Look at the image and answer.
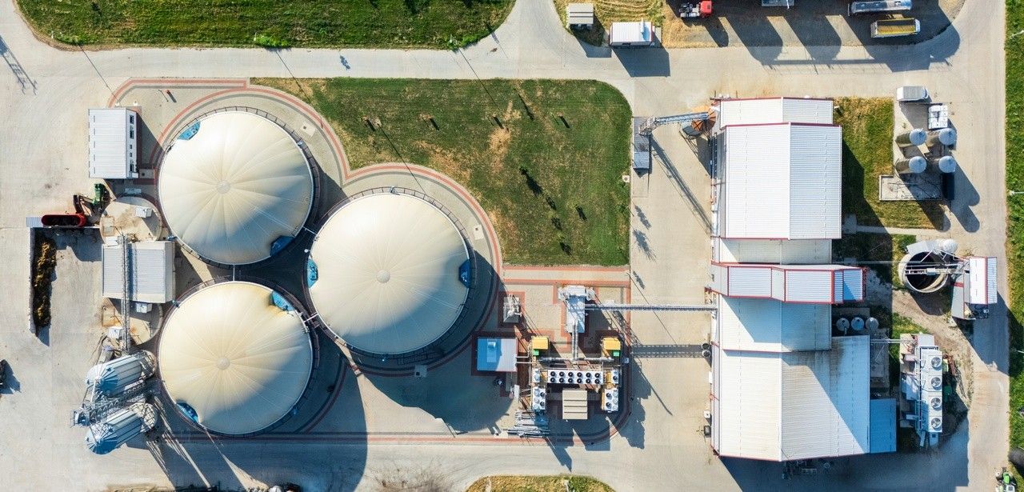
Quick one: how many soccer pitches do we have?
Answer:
none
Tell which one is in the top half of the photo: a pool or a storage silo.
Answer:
storage silo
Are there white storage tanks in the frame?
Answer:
Yes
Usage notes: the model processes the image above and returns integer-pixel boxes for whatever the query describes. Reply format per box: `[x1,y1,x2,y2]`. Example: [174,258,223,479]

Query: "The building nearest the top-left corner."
[89,108,142,179]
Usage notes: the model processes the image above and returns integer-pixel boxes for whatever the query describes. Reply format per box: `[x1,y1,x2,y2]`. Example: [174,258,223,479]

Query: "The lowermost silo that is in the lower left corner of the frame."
[82,403,159,456]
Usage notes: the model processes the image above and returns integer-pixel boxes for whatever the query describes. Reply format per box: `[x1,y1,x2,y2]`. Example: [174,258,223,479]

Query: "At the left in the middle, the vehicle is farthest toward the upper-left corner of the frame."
[73,185,108,218]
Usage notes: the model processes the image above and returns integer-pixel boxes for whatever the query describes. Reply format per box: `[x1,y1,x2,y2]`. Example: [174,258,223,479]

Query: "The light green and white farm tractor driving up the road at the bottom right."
[994,464,1018,492]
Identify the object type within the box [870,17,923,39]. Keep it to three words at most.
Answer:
truck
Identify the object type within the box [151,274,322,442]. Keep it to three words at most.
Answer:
storage tank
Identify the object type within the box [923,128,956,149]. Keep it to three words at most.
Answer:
silo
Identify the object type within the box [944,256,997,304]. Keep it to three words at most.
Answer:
house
